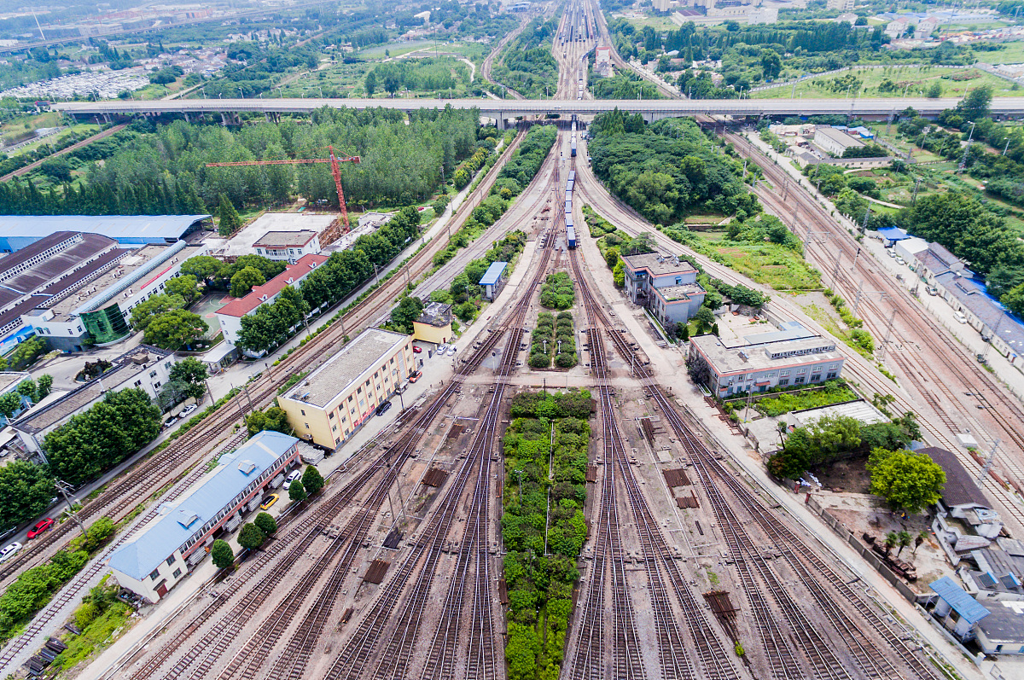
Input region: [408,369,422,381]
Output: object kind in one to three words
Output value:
vehicle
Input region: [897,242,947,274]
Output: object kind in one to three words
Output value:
house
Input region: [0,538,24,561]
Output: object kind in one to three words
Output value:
car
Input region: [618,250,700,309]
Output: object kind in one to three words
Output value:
building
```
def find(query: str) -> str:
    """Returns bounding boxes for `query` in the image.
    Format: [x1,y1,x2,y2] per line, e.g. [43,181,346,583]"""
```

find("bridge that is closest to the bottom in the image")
[51,96,1024,126]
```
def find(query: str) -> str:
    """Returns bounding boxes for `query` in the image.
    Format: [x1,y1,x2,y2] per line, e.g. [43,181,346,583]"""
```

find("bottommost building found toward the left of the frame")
[111,433,301,605]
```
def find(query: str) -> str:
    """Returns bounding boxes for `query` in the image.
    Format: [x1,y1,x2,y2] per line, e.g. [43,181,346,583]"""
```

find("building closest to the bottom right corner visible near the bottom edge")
[970,597,1024,658]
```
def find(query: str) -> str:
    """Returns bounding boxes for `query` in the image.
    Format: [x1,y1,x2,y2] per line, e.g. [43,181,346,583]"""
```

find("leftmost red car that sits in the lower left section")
[22,517,54,540]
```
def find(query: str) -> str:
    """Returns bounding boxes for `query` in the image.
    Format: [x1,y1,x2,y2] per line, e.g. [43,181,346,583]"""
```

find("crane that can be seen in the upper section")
[207,147,363,231]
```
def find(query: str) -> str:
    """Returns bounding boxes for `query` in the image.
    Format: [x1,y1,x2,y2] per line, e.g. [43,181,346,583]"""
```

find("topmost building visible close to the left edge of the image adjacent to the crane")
[0,207,197,253]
